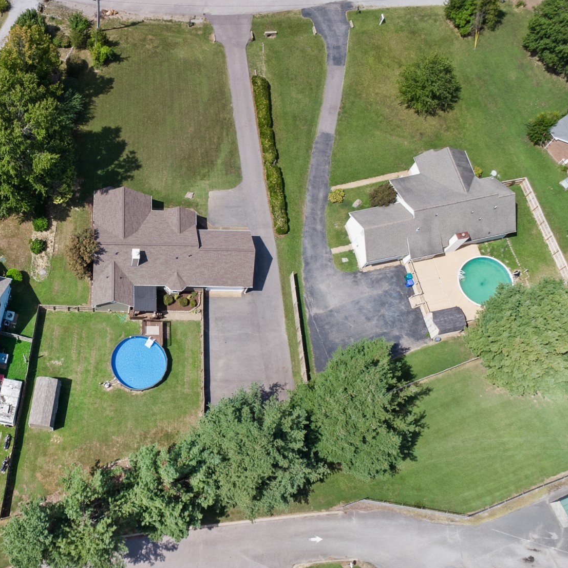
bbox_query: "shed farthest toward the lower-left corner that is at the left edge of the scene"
[27,377,60,430]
